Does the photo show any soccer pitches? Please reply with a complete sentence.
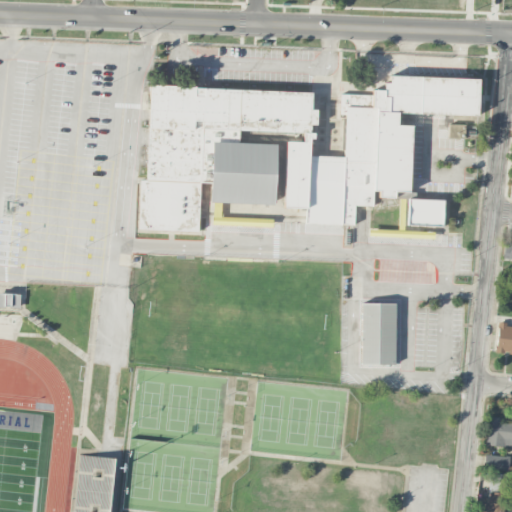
Yes, a soccer pitch is visible in the scene.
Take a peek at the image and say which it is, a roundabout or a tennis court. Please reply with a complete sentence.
There is a tennis court in the scene.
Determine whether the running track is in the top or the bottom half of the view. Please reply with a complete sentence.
You can find the running track in the bottom half.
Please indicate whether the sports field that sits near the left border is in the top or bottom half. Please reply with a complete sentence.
Seen from above, the sports field that sits near the left border lies in the bottom half of the view.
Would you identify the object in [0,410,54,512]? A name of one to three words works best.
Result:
sports field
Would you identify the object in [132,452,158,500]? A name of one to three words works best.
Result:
tennis court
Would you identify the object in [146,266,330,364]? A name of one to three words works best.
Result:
soccer field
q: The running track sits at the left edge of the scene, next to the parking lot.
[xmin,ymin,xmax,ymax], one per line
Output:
[0,337,76,512]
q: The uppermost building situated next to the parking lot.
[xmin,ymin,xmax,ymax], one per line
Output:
[138,75,484,231]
